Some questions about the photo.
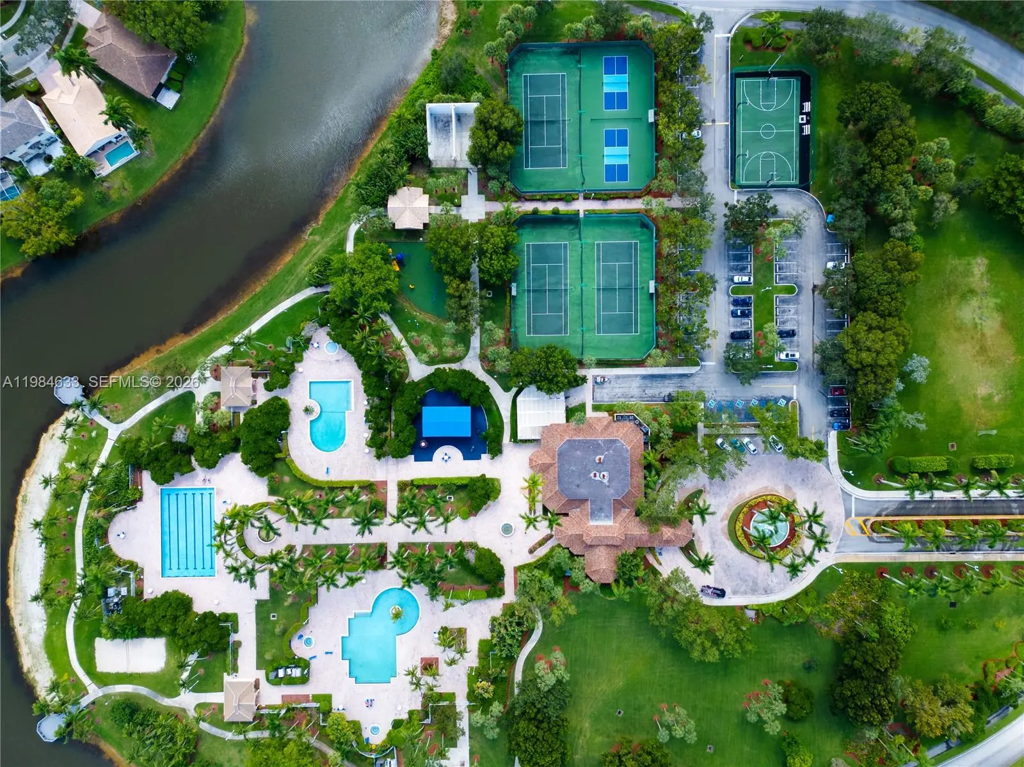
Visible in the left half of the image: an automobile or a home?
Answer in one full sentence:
What appears in the left half of the image is a home.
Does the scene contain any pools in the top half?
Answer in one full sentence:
Yes, you'll find a pool in the top half.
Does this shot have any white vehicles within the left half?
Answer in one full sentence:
No, I can find no white vehicle within the left half.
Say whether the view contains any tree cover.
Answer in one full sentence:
Yes, some tree cover is visible.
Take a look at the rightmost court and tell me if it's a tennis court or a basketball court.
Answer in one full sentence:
Looking closely, the rightmost court is a basketball court.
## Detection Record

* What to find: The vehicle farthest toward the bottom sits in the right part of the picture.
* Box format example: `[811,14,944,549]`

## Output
[700,585,725,598]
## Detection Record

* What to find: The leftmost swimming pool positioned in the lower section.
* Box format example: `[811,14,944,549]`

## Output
[159,486,217,579]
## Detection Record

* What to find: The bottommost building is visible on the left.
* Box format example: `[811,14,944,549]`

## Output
[223,678,256,722]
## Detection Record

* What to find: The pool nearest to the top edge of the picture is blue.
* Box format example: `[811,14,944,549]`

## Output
[103,140,136,167]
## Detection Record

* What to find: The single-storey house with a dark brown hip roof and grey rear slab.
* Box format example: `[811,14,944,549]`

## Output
[84,12,177,99]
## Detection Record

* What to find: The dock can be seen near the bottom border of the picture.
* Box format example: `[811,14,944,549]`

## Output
[35,708,75,743]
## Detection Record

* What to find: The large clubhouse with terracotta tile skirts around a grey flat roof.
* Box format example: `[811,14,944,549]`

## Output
[530,417,693,583]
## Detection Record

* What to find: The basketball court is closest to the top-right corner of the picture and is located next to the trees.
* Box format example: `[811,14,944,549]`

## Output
[732,71,811,186]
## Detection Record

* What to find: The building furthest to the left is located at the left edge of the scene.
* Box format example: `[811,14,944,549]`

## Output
[0,94,60,163]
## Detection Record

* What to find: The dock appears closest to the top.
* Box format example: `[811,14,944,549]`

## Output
[52,378,91,415]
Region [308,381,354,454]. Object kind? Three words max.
swimming pool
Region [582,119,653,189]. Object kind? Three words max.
sports court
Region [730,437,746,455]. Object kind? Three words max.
car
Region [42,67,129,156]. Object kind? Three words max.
house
